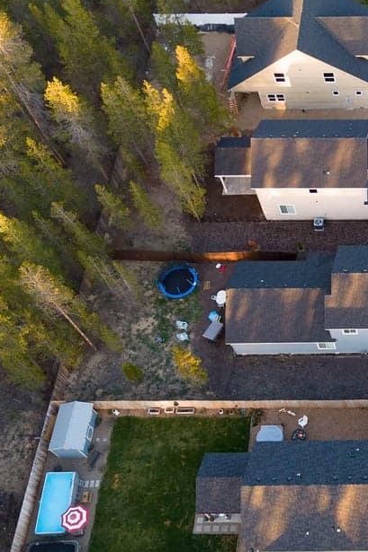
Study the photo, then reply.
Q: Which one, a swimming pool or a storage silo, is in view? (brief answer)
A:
swimming pool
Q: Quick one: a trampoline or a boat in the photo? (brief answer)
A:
trampoline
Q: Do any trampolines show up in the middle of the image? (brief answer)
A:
Yes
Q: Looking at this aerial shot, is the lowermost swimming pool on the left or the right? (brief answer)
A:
left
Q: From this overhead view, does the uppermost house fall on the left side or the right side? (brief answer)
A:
right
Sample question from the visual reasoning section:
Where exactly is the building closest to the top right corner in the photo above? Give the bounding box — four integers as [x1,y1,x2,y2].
[228,0,368,108]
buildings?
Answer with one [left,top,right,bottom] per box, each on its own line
[212,120,368,219]
[224,245,368,354]
[193,439,368,552]
[44,399,96,460]
[228,0,368,108]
